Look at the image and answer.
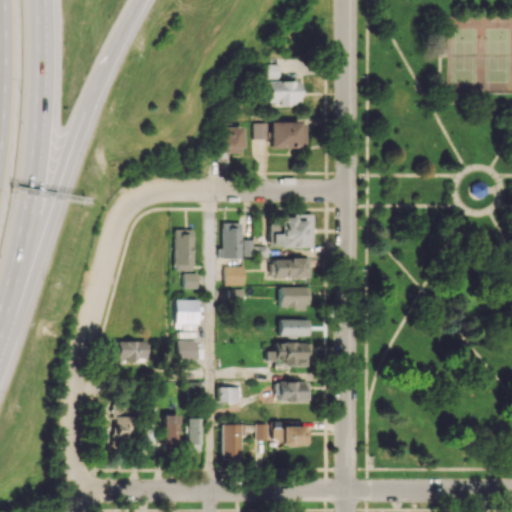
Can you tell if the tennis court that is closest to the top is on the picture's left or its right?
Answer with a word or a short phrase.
right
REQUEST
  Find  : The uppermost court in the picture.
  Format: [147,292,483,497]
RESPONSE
[448,18,512,93]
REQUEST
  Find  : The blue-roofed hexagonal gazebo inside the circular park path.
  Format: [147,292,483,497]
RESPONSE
[470,181,488,198]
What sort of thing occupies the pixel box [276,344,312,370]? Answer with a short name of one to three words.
house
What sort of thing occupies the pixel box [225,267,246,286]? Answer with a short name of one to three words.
building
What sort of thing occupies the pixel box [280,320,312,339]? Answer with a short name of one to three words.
house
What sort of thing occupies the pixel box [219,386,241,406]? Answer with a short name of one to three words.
building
